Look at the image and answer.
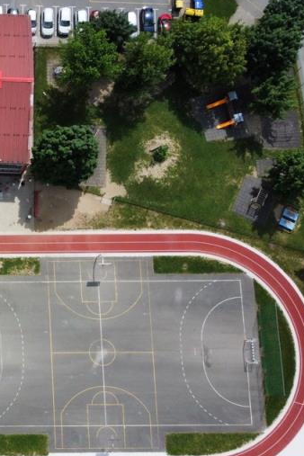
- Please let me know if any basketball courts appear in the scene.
Yes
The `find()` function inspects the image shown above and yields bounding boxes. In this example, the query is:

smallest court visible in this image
[39,255,167,453]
